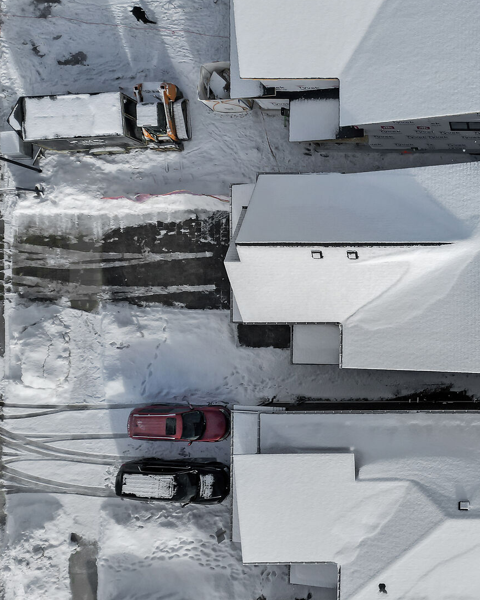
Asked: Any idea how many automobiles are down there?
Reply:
2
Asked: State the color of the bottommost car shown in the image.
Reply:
black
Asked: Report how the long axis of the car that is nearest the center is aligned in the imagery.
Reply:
from left to right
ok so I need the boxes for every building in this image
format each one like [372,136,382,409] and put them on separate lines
[230,400,480,600]
[229,0,480,149]
[223,159,480,372]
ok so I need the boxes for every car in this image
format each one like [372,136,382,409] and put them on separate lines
[127,402,230,450]
[115,457,230,509]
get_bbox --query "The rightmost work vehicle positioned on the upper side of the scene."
[131,76,185,161]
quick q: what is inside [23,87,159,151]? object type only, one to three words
trailer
